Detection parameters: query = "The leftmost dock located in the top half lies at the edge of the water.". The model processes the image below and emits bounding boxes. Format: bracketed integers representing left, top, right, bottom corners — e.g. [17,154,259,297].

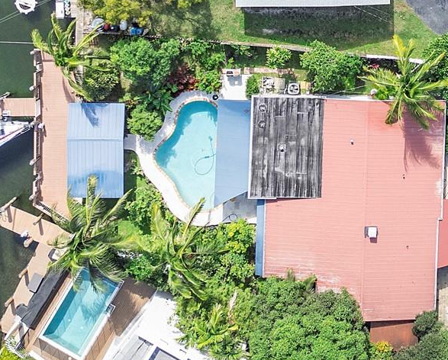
[0,97,35,117]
